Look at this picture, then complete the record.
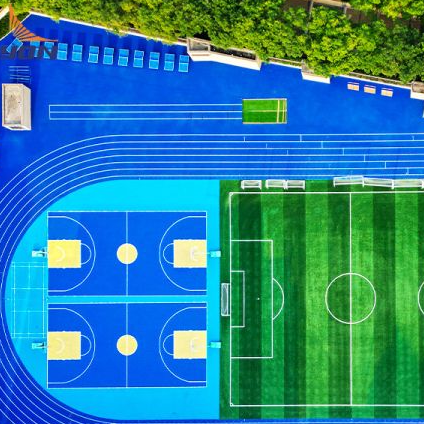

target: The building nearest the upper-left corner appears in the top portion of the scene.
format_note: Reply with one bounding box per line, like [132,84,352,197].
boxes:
[2,85,31,131]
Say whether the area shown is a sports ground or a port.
sports ground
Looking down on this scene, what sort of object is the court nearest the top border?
basketball court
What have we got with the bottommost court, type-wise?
basketball court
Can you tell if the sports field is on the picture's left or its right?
right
